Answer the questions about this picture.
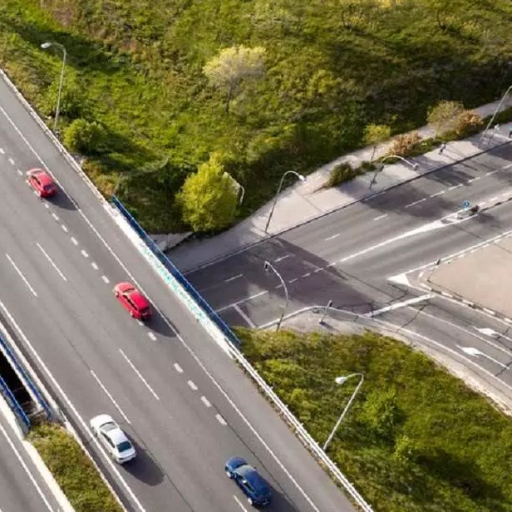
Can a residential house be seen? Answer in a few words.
No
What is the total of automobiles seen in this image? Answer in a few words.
four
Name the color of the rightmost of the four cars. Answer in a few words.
blue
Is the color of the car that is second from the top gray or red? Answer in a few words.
red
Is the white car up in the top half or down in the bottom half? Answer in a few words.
bottom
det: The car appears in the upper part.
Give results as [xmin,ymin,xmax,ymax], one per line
[26,170,56,198]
